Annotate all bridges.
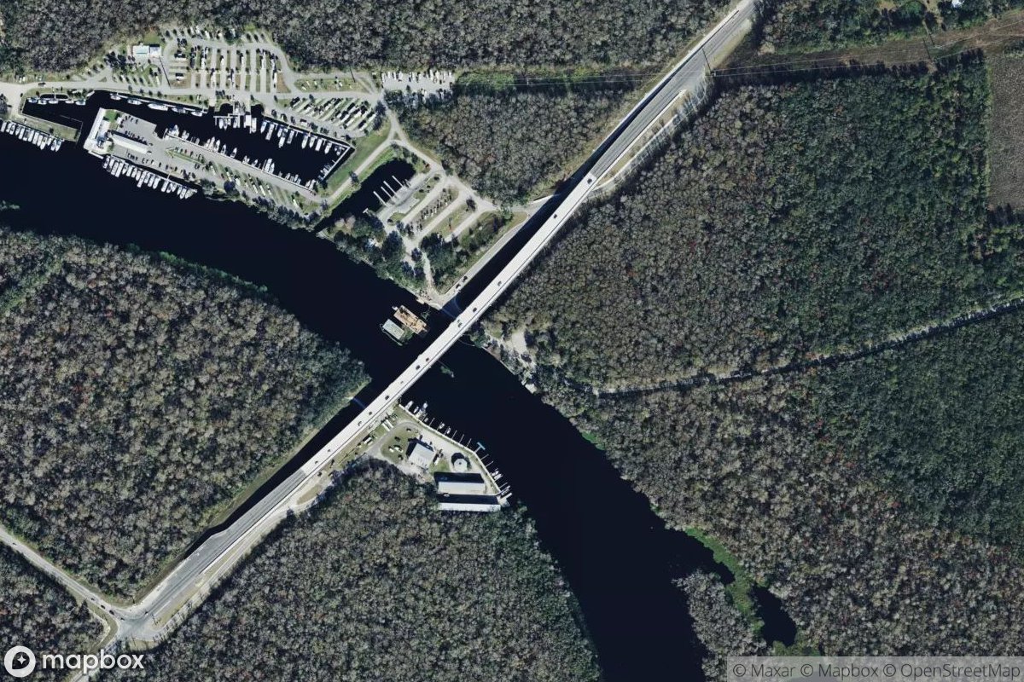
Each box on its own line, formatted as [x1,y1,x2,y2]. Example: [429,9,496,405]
[136,9,749,625]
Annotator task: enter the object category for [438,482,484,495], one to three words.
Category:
shed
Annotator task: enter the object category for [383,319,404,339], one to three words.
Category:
ship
